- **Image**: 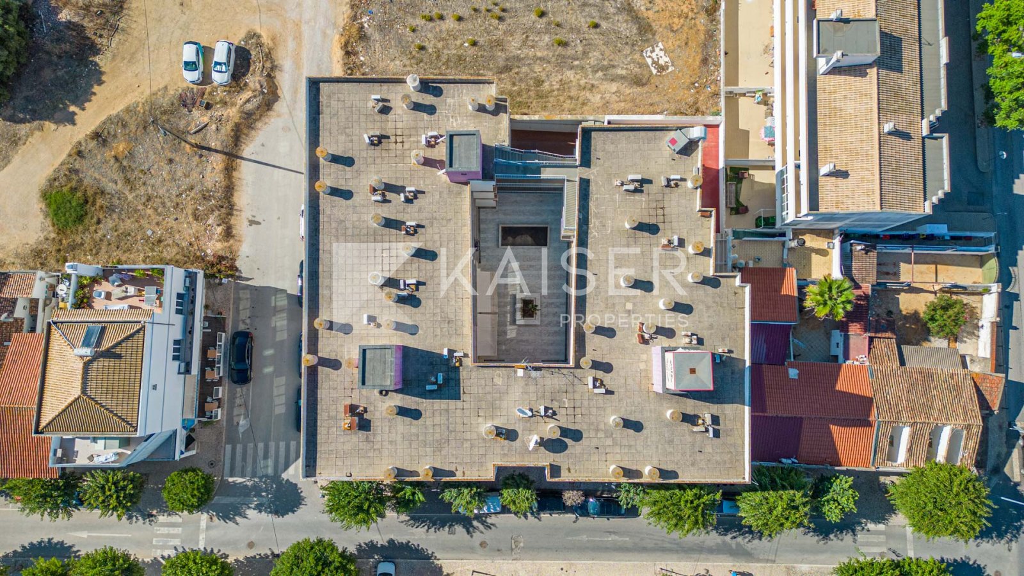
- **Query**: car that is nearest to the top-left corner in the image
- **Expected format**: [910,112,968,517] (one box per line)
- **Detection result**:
[182,41,209,86]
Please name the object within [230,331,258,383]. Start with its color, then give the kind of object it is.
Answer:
black car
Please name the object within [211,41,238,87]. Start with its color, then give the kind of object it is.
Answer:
white car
